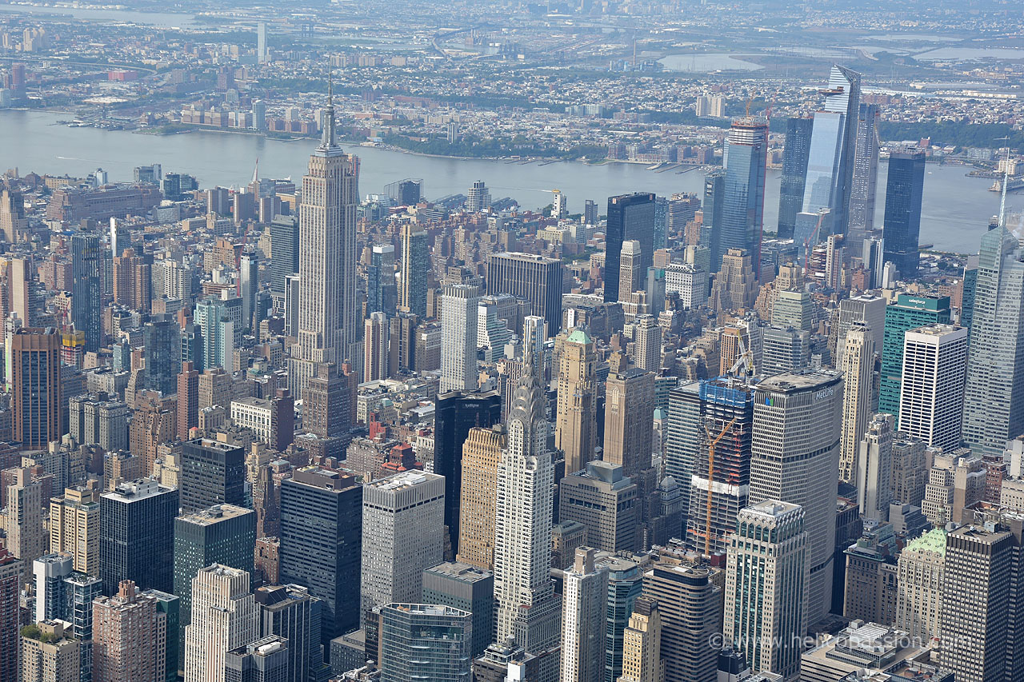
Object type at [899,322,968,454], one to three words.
building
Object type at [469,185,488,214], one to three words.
building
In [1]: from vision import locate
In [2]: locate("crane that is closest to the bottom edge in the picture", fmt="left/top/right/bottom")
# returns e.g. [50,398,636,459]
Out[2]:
[703,418,737,558]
